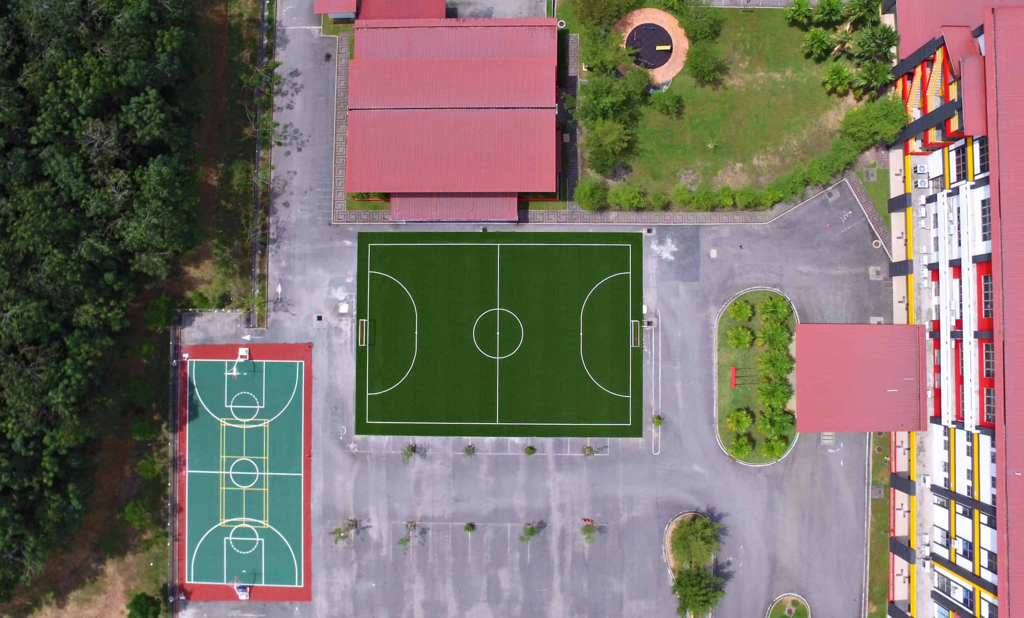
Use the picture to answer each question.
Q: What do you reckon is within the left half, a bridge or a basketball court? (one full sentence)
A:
It is a basketball court that can be seen within the left half.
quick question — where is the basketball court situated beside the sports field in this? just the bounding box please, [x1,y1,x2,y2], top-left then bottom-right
[179,343,312,601]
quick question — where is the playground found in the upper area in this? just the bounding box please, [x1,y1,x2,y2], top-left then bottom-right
[614,8,689,83]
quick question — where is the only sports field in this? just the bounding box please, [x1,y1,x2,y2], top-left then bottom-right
[354,231,644,439]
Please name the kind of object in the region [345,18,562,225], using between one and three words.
building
